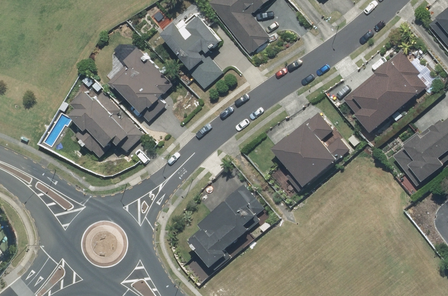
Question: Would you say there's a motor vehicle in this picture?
Yes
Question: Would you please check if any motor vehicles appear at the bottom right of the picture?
No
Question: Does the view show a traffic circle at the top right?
No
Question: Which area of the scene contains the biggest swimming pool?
left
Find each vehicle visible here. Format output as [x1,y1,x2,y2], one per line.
[233,118,252,133]
[372,20,386,34]
[266,21,280,34]
[134,148,152,166]
[194,124,212,140]
[300,72,316,87]
[166,152,182,166]
[233,92,252,108]
[315,64,331,78]
[218,104,236,119]
[368,56,387,73]
[358,30,376,46]
[256,12,276,21]
[286,58,304,74]
[335,84,354,100]
[274,67,288,80]
[248,106,266,121]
